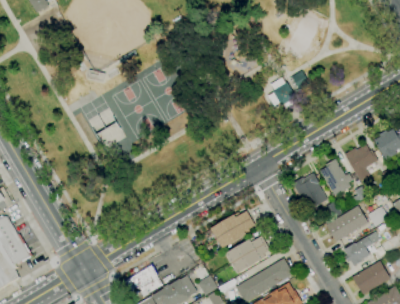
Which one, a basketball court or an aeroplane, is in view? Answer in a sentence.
It is a basketball court that can be seen here.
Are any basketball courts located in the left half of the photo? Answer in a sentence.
Yes, the scene does show a basketball court in the left half of the photo.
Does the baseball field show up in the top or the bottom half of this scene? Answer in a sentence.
You can find the baseball field in the top half.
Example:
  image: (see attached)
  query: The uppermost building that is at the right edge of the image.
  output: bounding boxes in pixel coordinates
[376,129,400,158]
